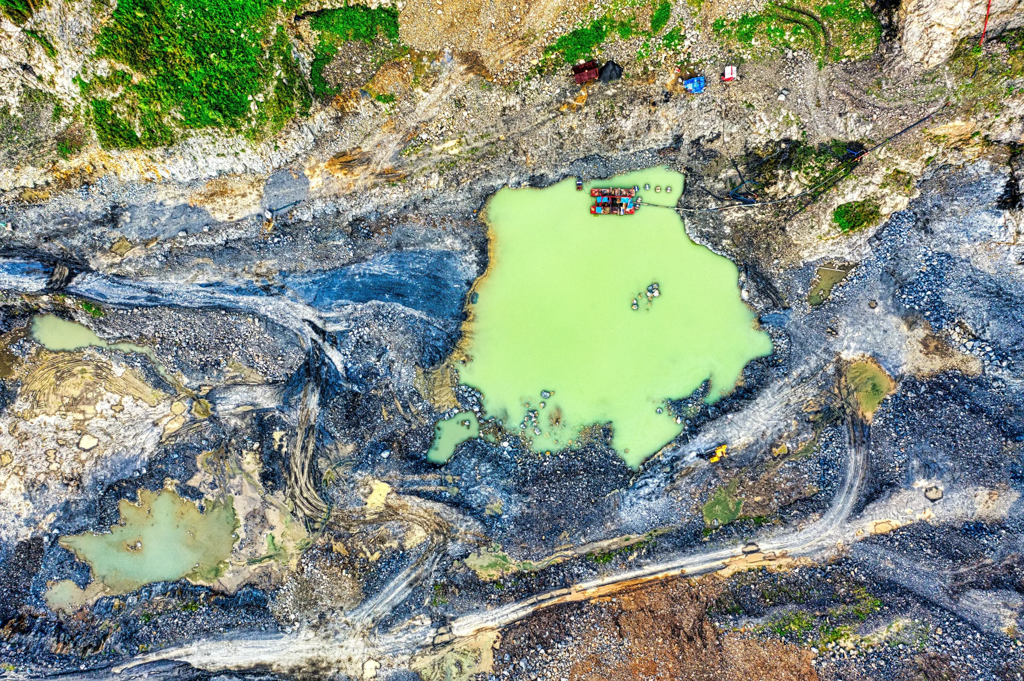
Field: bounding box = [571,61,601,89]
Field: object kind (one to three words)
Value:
shed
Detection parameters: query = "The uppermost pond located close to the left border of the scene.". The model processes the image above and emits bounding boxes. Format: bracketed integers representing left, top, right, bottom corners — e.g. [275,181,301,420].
[32,316,170,379]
